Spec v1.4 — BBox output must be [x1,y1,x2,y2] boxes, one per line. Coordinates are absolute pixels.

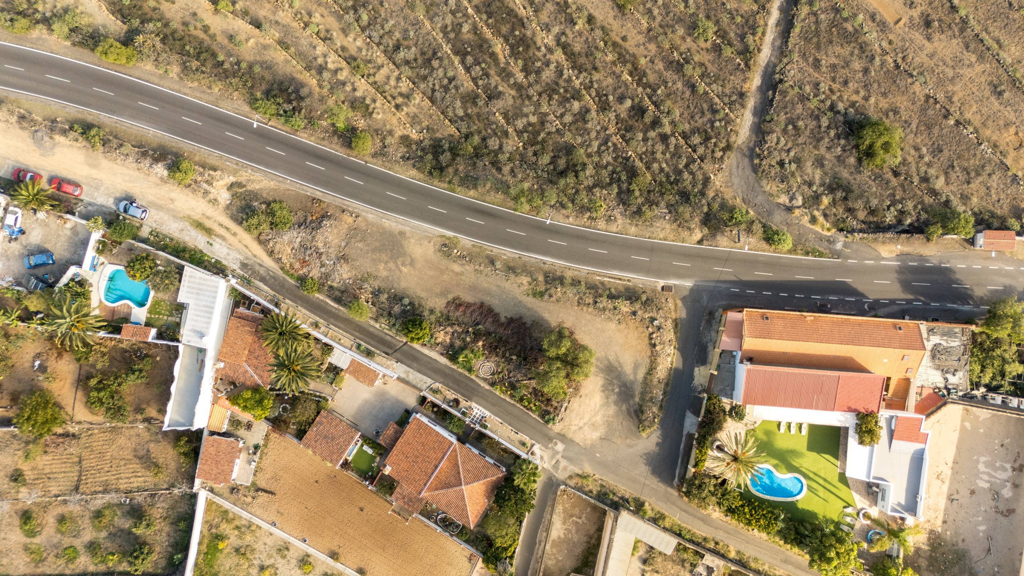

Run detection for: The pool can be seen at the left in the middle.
[99,264,155,313]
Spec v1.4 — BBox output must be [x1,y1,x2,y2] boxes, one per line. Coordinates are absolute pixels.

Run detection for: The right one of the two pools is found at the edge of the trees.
[747,463,807,501]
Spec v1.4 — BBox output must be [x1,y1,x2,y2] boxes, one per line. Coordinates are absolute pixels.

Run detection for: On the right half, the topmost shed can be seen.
[965,230,1016,251]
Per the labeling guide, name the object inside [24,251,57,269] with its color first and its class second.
blue car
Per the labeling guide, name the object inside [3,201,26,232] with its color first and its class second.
white car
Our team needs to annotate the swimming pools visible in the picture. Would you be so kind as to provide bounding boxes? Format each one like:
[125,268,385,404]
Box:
[99,264,155,313]
[747,463,807,501]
